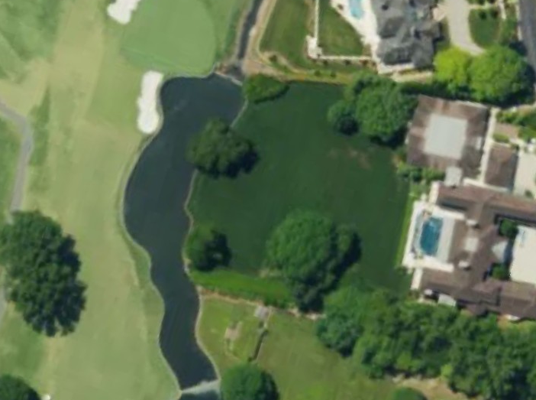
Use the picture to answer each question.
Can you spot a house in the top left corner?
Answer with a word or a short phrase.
No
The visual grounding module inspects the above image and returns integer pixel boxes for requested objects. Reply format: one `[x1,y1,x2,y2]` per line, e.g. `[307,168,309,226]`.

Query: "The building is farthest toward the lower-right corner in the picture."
[419,185,536,316]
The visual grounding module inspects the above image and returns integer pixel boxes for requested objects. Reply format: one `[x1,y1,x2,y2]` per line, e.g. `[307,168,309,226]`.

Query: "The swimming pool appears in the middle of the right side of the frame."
[419,216,443,256]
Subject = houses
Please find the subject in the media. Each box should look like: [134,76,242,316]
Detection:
[407,96,488,186]
[371,0,442,70]
[419,185,536,316]
[485,143,520,190]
